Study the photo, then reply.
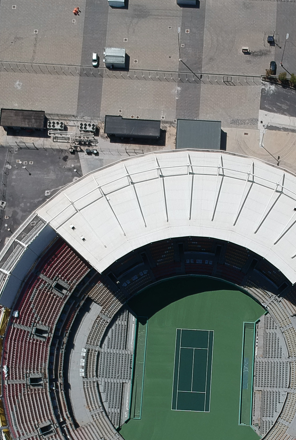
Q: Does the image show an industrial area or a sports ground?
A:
sports ground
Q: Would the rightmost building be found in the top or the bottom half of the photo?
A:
top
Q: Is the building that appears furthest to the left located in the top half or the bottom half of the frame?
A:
top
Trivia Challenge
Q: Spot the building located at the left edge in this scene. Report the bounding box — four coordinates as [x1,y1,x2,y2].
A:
[0,108,46,131]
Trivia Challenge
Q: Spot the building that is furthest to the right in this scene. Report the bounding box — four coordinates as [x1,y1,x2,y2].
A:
[177,120,221,149]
